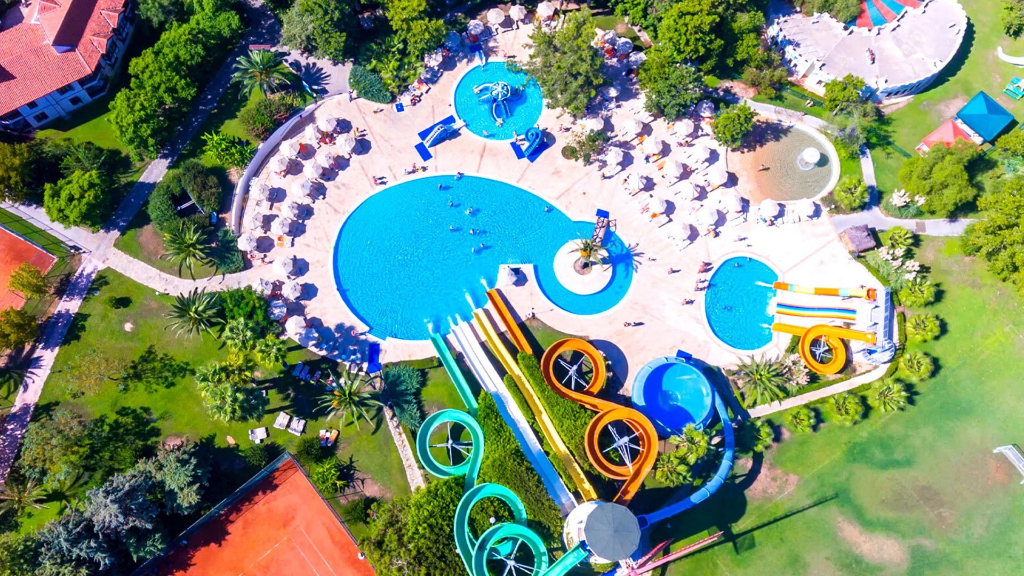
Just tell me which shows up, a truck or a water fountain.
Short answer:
water fountain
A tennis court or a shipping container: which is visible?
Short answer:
tennis court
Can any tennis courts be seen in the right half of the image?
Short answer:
No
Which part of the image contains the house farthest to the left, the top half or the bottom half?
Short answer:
top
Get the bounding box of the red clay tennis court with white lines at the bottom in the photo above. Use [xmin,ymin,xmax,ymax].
[137,460,374,576]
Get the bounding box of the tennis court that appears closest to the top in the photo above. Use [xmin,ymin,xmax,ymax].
[0,224,56,314]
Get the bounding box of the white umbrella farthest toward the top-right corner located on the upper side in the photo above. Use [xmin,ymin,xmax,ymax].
[795,199,818,222]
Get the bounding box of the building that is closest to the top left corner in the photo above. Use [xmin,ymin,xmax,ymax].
[0,0,142,135]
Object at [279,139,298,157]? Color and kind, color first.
white umbrella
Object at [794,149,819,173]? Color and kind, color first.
white fountain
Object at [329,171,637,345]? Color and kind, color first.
blue swimming pool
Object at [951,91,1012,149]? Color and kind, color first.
blue tent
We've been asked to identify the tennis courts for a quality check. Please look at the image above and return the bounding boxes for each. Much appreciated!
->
[0,224,56,314]
[137,460,374,576]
